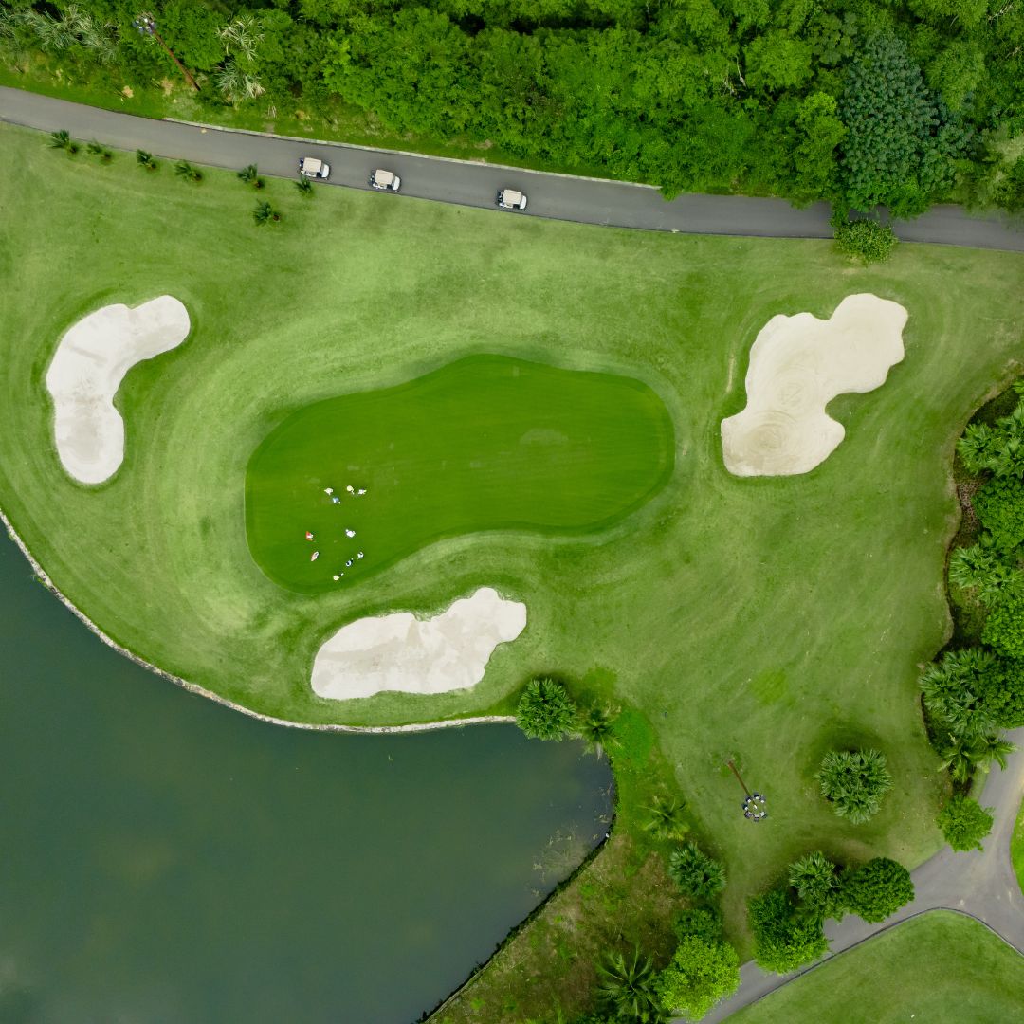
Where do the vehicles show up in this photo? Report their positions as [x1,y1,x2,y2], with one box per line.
[371,171,402,197]
[497,190,529,215]
[301,156,333,182]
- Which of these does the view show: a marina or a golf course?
golf course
